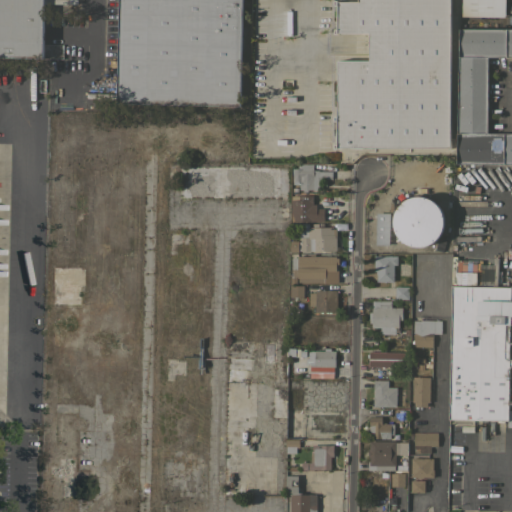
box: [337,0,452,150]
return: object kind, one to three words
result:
warehouse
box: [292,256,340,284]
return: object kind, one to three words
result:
house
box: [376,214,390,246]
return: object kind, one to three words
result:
shed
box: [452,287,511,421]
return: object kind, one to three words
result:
building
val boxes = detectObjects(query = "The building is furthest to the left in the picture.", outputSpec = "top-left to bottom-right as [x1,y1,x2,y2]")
[0,0,45,59]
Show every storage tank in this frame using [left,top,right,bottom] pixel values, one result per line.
[390,197,444,248]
